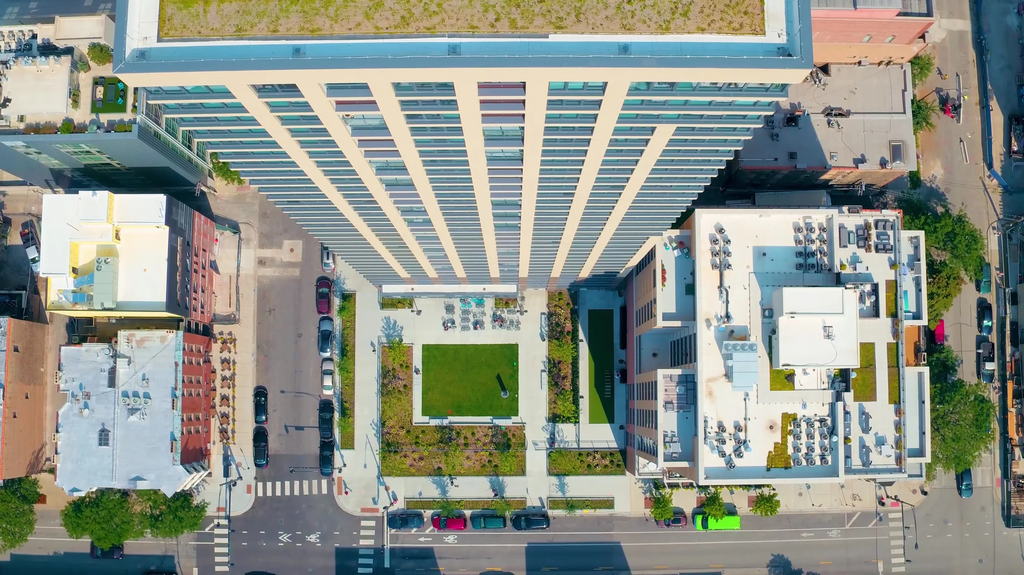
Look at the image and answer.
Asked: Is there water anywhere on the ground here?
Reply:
No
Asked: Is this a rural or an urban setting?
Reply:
urban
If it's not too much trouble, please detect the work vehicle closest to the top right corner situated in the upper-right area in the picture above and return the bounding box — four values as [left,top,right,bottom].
[937,97,959,117]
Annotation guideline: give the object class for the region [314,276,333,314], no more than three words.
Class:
car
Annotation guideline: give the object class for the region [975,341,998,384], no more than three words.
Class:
truck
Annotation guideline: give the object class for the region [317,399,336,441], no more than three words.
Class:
car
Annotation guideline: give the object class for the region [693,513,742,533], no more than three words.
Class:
vehicle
